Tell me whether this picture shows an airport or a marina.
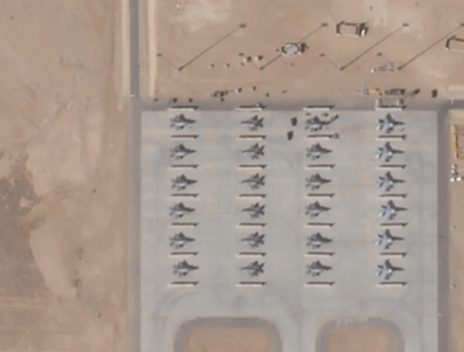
airport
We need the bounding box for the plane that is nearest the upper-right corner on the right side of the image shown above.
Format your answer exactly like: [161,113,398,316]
[376,115,400,133]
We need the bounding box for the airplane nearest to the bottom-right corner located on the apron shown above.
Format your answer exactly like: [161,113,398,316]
[375,261,400,278]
